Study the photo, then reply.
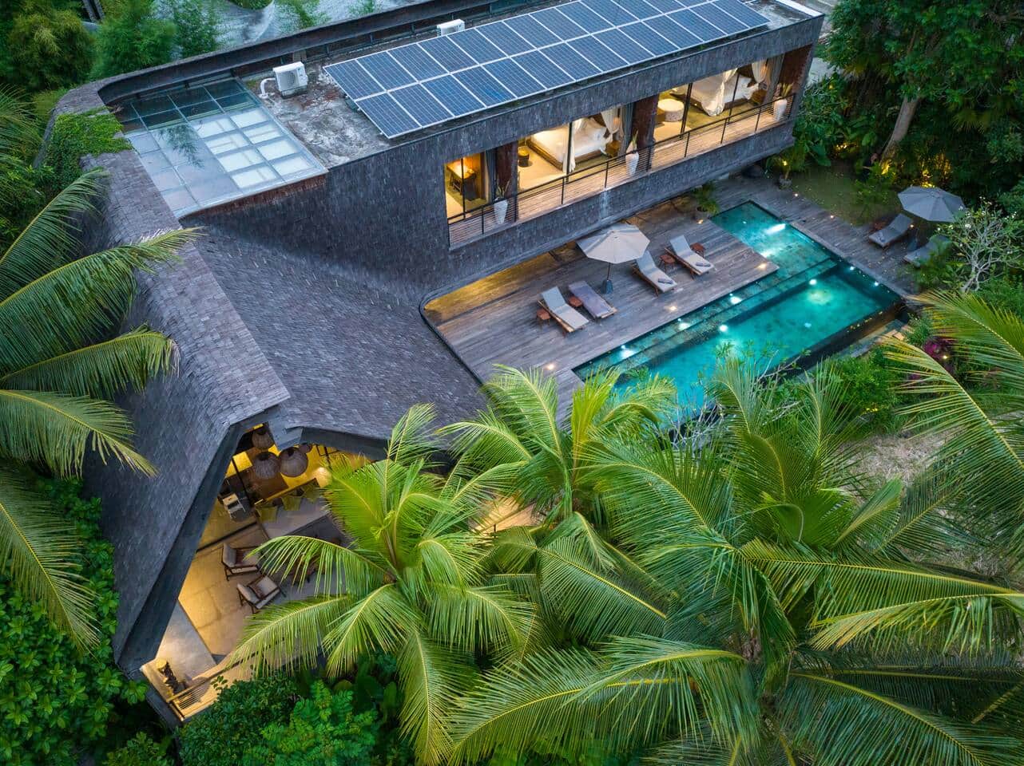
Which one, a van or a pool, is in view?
pool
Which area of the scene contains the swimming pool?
right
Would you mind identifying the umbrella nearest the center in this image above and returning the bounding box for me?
[574,218,655,292]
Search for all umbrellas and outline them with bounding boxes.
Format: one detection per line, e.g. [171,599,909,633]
[574,218,655,292]
[897,177,976,248]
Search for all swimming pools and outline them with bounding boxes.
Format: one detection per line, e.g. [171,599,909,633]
[571,202,928,469]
